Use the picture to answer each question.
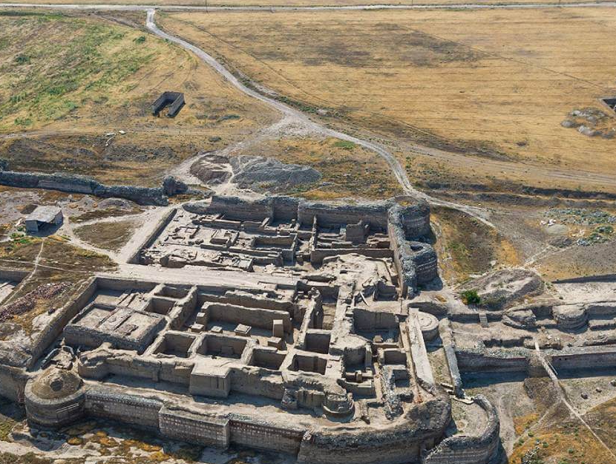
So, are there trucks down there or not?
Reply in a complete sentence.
No, no truck is visible in the view.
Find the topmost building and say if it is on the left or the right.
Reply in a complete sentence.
You can find the topmost building on the left side of the picture.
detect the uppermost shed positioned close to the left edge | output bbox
[23,204,64,234]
